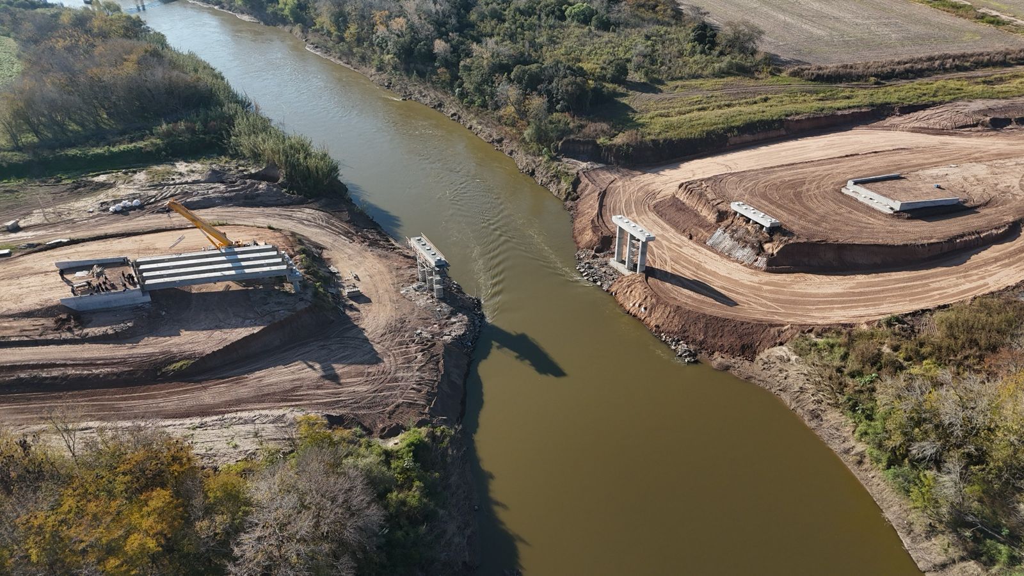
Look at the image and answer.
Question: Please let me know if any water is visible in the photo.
Yes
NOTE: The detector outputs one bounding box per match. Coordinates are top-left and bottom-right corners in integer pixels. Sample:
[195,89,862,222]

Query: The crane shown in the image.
[168,202,260,251]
